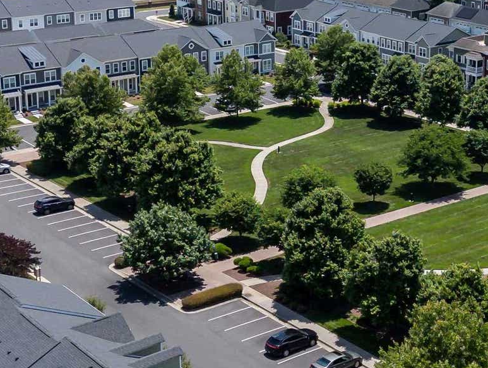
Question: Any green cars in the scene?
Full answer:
No, I find no green car anywhere in the image.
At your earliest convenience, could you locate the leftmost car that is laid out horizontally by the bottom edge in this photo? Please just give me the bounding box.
[264,329,322,359]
